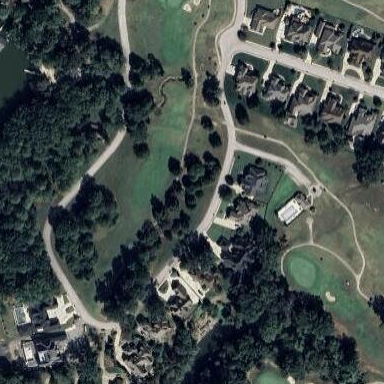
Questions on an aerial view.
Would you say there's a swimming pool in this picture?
Yes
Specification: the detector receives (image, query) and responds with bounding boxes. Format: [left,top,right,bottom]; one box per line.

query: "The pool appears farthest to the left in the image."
[13,305,29,324]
